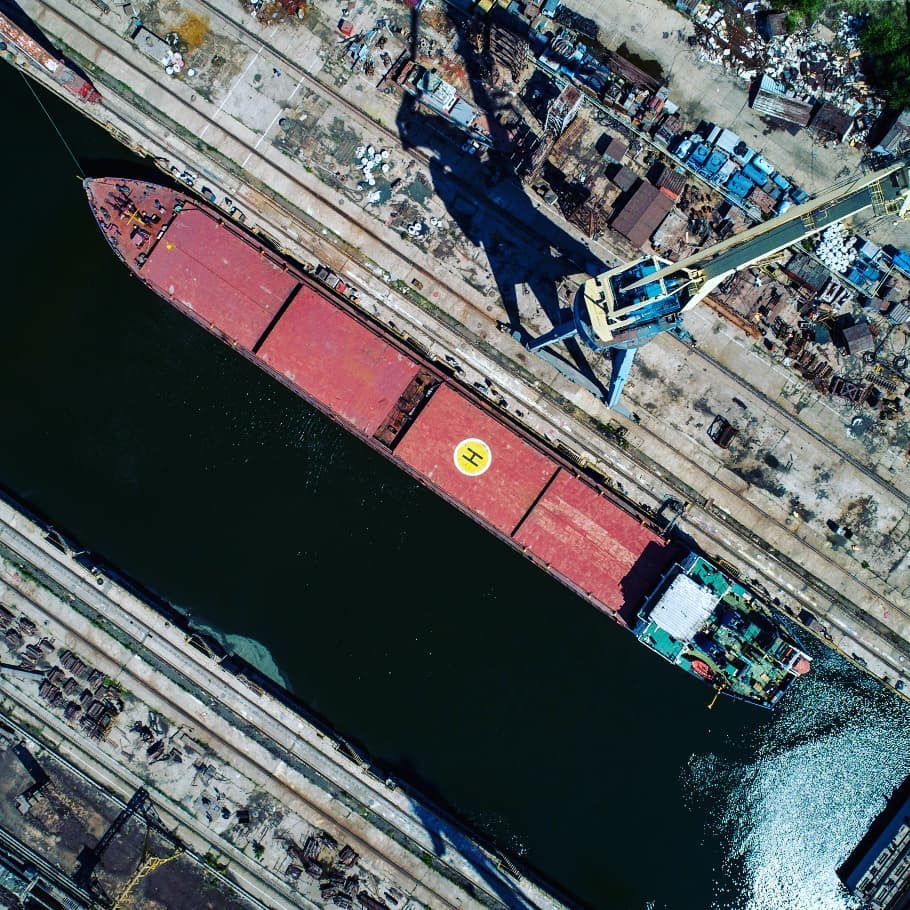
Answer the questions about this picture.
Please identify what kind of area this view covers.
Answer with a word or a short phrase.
port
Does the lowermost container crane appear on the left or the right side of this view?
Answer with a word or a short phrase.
left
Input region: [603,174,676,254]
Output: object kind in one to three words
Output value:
shed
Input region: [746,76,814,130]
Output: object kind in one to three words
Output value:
shed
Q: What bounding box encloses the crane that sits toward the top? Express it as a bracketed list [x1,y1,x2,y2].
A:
[496,162,910,430]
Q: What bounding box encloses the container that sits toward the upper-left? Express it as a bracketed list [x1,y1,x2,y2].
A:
[135,29,173,67]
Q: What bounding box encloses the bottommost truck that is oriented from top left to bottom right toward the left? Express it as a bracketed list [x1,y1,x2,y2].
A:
[314,266,346,294]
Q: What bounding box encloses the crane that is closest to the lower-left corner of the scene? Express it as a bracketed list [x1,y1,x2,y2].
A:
[89,824,187,910]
